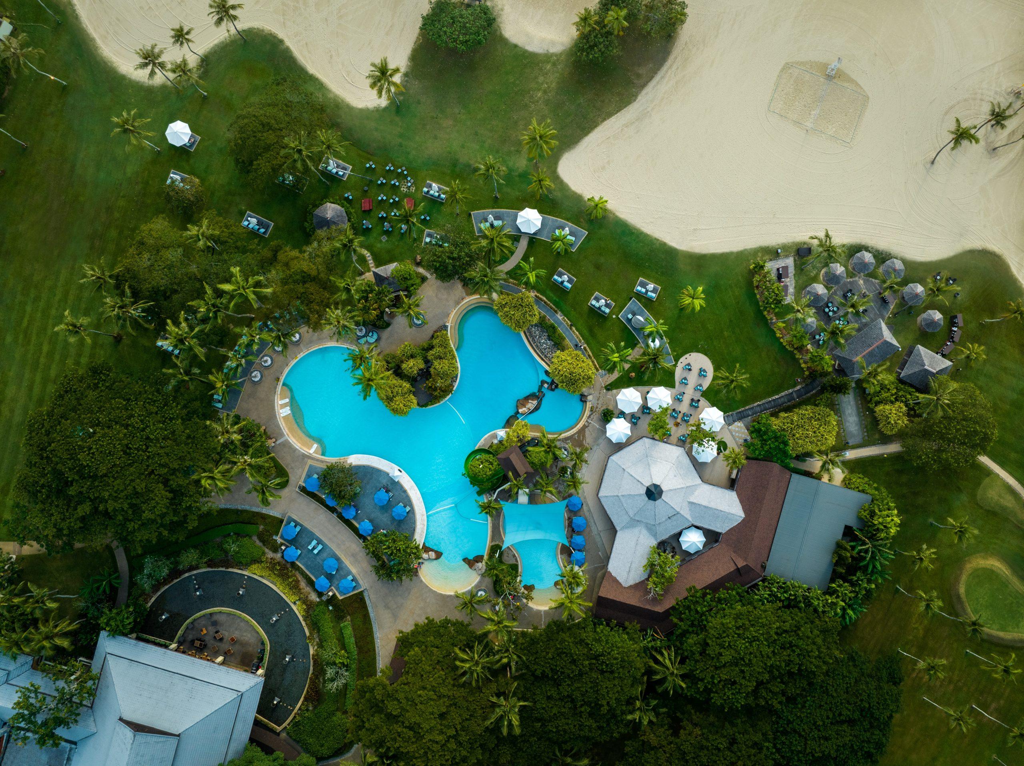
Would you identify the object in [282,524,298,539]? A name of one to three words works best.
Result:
umbrella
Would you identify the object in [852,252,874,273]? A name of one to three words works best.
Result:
umbrella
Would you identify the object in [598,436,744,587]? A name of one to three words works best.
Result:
building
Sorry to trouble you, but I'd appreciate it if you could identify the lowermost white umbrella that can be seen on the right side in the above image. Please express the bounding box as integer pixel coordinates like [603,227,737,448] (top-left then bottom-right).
[678,525,705,553]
